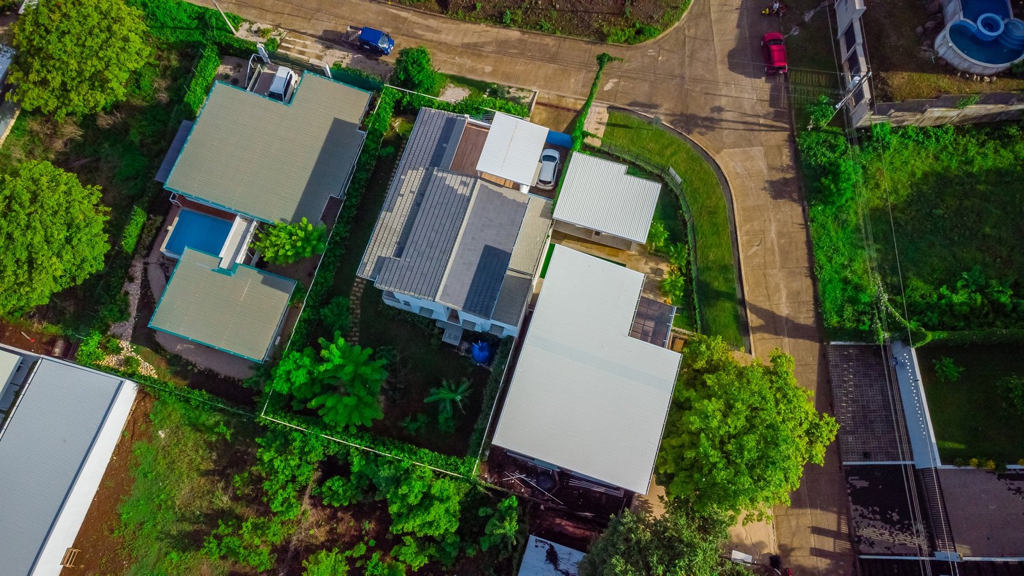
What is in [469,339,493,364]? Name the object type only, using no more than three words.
water tank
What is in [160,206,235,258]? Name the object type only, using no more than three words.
swimming pool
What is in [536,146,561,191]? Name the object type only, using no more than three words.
car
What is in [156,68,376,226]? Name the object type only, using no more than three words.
house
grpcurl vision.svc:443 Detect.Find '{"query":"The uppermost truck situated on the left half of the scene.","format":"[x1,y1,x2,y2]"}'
[339,21,396,57]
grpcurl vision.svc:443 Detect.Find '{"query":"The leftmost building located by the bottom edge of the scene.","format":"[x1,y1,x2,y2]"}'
[0,351,148,576]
